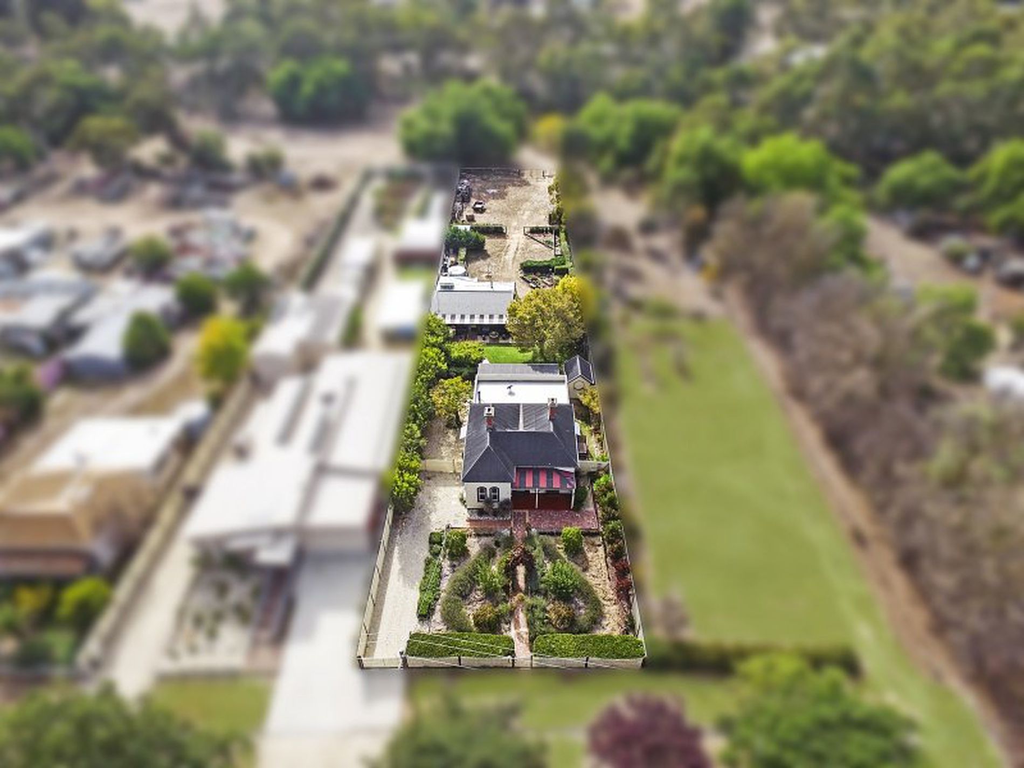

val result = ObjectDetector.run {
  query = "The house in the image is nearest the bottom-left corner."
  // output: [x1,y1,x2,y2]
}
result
[0,409,190,592]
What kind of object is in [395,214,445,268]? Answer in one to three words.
shed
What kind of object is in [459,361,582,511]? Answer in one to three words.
house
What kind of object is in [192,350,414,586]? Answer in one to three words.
building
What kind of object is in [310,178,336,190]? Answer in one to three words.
vehicle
